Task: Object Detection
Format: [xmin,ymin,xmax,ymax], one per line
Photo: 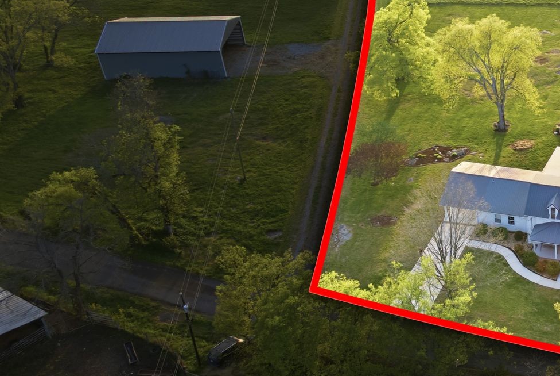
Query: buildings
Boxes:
[94,17,250,80]
[0,281,55,354]
[441,148,560,263]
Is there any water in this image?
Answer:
No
